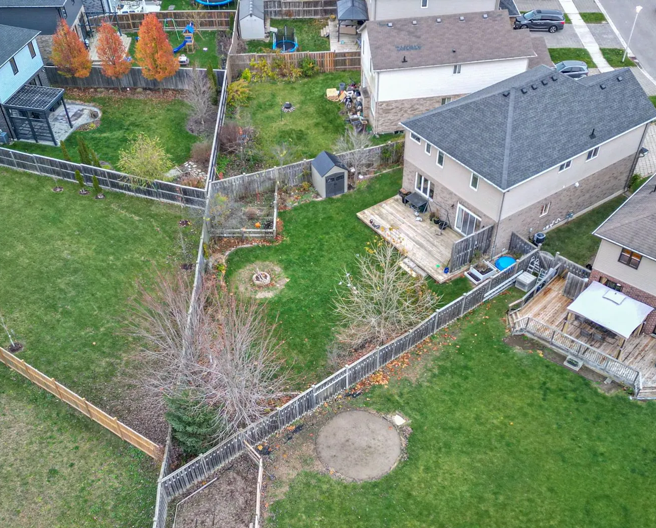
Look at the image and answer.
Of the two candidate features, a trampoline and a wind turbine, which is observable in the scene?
trampoline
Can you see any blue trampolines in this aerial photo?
Yes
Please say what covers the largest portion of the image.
grass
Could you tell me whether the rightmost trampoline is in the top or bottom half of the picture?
top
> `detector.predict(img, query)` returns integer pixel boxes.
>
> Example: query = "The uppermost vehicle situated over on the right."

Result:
[511,6,561,32]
